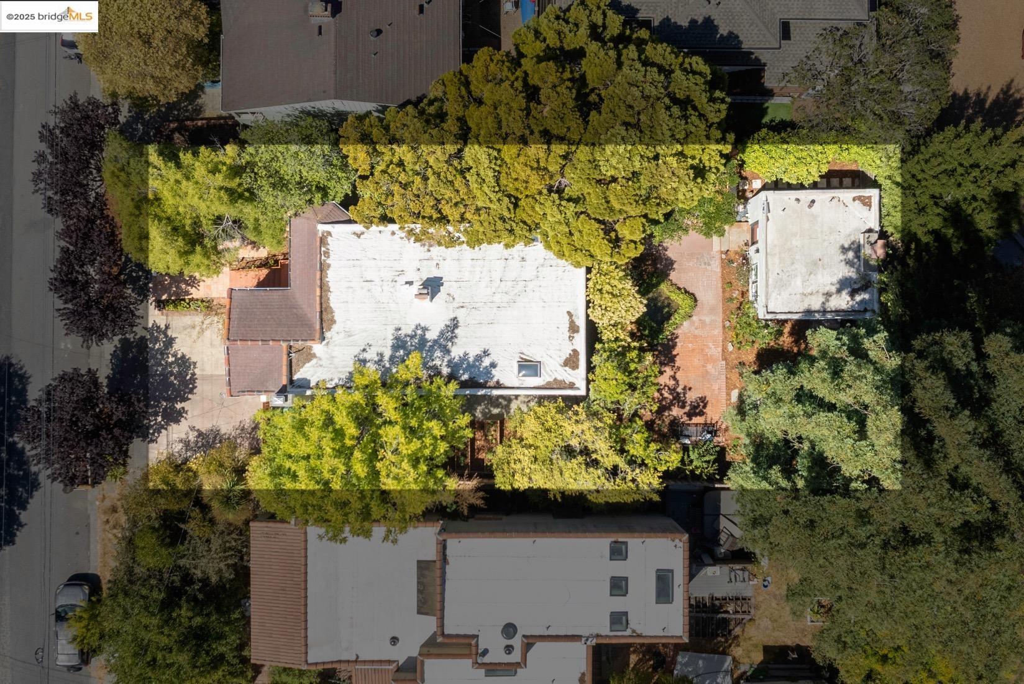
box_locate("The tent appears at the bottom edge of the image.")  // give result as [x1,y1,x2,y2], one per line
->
[672,642,733,684]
